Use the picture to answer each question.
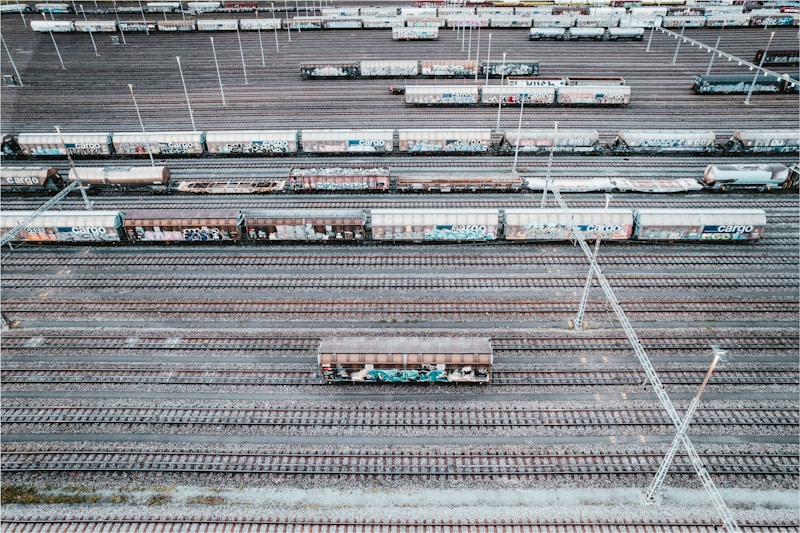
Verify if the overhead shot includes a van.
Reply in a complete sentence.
Yes, this view includes a van.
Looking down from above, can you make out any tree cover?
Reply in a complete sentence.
No, the picture contains no tree cover.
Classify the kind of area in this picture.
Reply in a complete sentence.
This looks like a rail yard.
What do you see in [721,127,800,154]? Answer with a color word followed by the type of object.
white rail car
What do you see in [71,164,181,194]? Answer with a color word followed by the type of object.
white rail car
